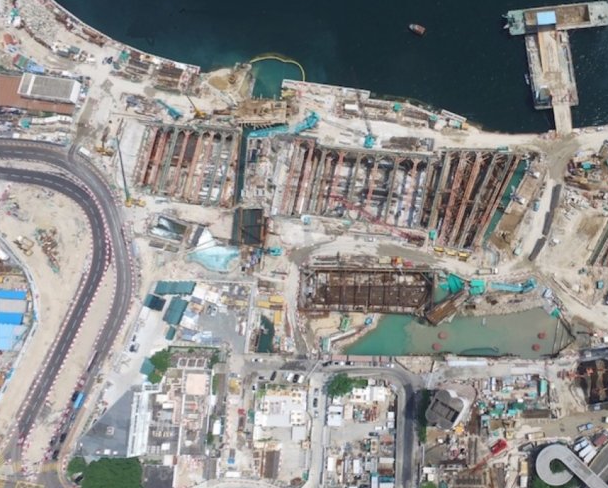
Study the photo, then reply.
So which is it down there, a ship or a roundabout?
ship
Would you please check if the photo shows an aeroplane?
No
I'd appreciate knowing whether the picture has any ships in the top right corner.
Yes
